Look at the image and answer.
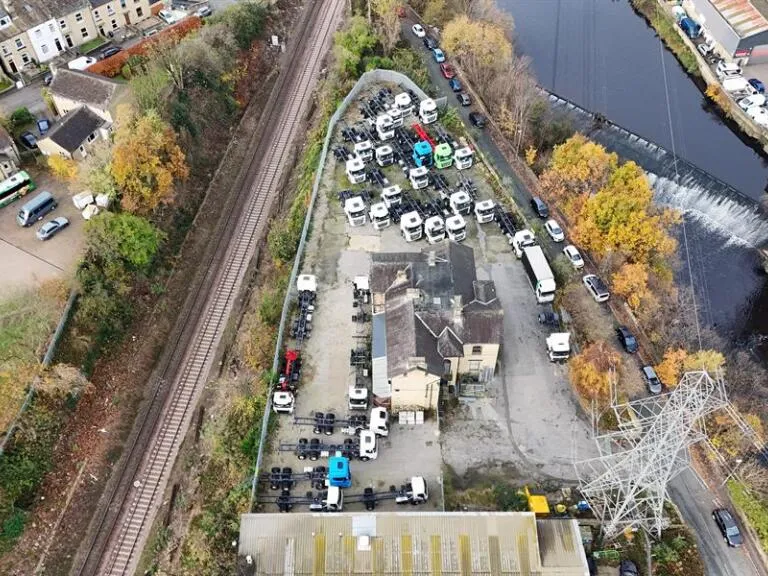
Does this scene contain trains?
No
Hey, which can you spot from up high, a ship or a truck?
truck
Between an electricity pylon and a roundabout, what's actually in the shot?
electricity pylon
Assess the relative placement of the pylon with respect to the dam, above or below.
below it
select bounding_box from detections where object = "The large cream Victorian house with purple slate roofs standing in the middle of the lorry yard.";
[370,234,504,405]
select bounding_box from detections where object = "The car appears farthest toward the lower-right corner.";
[711,508,744,548]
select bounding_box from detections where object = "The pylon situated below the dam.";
[581,377,739,536]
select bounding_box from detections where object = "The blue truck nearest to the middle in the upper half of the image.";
[395,127,433,166]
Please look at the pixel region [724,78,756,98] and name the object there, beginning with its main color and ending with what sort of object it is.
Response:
white vehicle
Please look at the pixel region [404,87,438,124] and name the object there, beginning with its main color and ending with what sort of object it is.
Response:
white truck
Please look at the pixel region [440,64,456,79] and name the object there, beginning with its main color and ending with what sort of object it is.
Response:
red car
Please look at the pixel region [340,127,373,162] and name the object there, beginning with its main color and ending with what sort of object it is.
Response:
white truck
